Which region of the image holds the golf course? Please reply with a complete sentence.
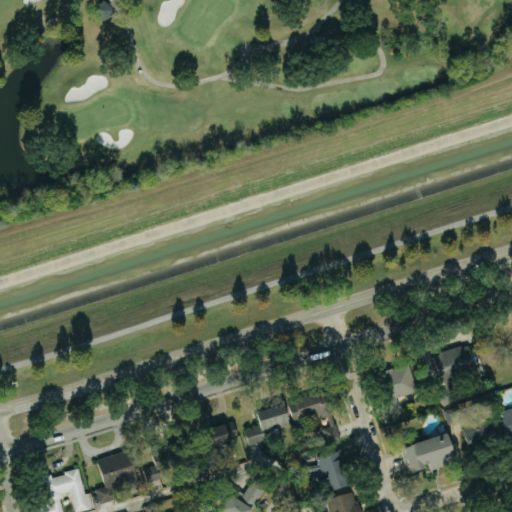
The golf course appears toward the top of the photo.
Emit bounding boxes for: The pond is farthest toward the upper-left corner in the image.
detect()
[0,36,62,194]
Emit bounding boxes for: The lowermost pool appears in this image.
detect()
[422,415,444,438]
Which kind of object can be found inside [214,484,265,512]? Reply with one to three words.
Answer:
house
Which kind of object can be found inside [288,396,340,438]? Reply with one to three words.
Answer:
house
